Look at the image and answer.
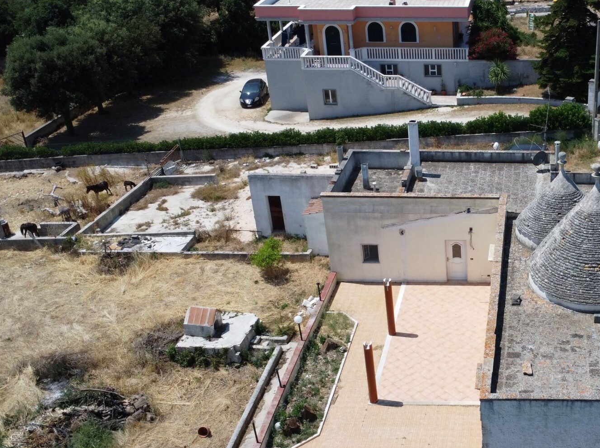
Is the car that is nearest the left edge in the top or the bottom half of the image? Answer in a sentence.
The top half of the photo is where the car that is nearest the left edge is.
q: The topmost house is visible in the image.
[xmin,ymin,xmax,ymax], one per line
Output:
[254,0,476,119]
